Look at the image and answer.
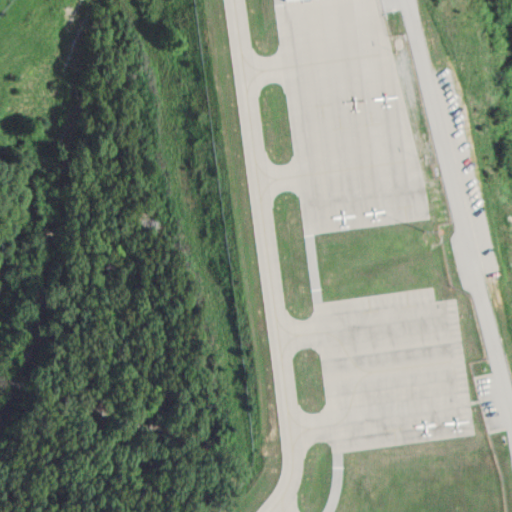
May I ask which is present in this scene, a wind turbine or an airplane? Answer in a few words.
airplane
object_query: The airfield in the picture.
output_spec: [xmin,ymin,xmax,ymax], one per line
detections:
[224,0,476,512]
